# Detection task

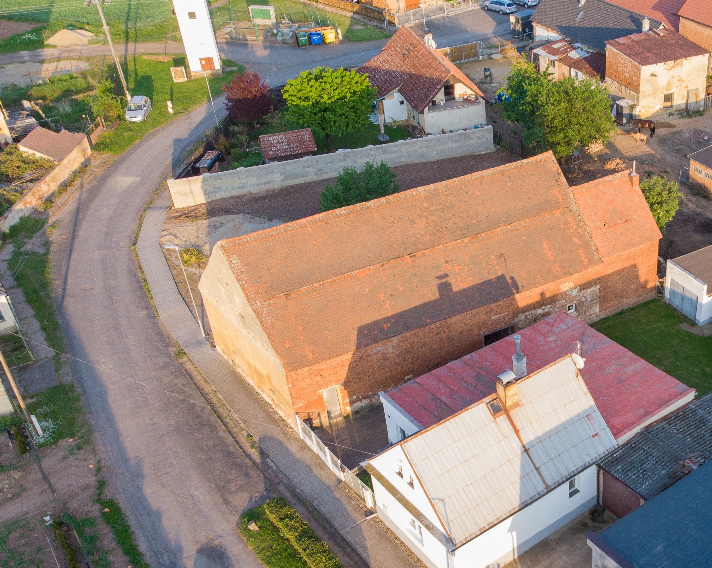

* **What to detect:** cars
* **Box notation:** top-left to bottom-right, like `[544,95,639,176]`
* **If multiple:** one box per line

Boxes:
[512,0,538,8]
[121,93,153,121]
[483,0,518,15]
